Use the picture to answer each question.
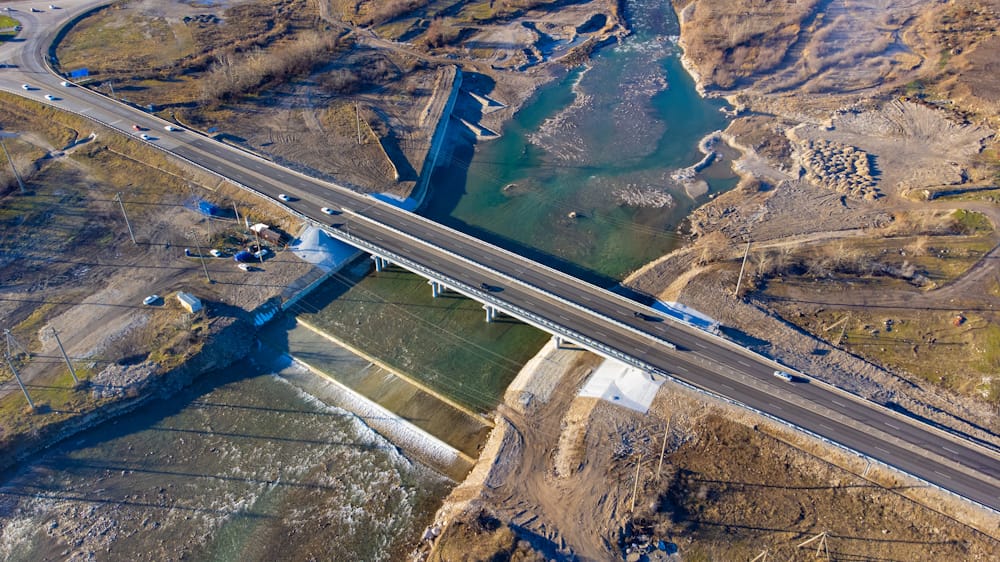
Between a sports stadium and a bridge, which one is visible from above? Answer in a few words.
bridge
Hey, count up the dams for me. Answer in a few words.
2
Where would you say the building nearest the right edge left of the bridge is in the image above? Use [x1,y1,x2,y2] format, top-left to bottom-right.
[256,227,282,244]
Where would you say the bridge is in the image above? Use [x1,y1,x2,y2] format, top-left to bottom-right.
[317,195,687,370]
